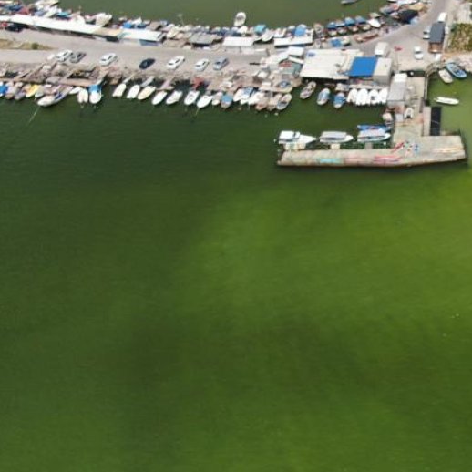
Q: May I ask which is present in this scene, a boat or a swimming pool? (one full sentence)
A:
This aerial view contains a boat.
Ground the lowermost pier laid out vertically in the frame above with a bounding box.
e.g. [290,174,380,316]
[429,103,442,139]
